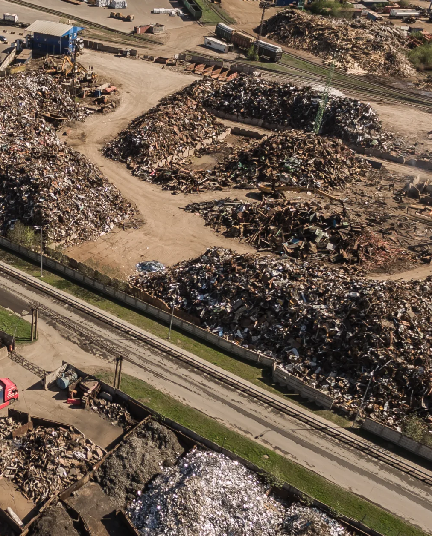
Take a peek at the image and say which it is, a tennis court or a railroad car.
railroad car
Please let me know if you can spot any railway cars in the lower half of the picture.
No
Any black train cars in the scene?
Yes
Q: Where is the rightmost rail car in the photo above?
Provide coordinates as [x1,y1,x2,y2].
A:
[257,46,283,63]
